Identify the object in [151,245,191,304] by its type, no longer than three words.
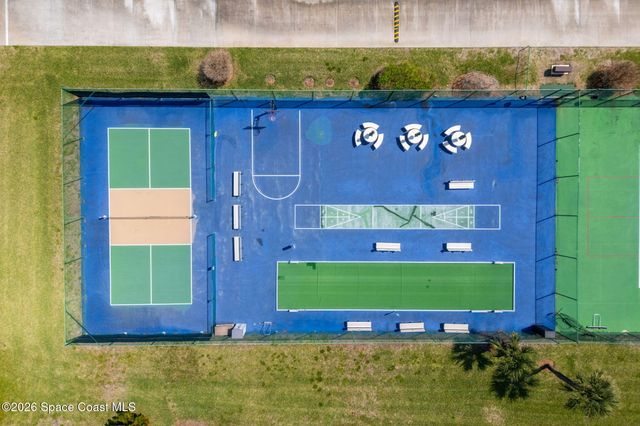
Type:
sports court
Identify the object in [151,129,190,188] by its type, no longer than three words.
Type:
sports court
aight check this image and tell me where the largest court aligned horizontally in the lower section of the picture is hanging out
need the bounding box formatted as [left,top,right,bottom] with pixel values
[276,261,516,313]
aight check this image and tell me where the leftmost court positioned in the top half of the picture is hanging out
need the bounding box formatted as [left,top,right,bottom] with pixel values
[109,129,149,188]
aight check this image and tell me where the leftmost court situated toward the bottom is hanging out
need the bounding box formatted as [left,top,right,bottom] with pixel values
[110,245,150,304]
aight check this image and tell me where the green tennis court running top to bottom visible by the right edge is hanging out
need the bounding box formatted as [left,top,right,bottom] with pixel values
[555,97,640,332]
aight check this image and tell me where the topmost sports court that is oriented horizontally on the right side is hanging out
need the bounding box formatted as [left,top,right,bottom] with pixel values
[294,204,502,230]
